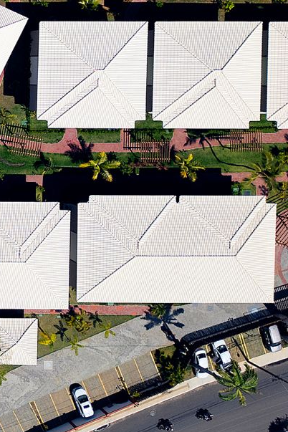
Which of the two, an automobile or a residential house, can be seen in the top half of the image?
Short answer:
residential house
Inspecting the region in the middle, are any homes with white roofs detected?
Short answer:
Yes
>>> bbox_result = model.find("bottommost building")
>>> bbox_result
[0,318,38,366]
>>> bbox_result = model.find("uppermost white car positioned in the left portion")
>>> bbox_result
[67,383,95,419]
